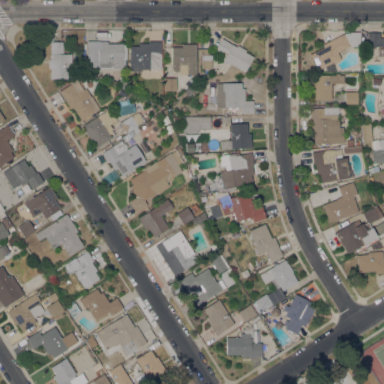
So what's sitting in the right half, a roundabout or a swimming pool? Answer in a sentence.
Looking in the right half, you will find a swimming pool.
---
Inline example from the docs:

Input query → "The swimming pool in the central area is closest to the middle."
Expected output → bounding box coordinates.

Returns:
[198,158,217,170]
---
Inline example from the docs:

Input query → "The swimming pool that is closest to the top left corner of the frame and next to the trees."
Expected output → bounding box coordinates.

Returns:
[119,100,137,116]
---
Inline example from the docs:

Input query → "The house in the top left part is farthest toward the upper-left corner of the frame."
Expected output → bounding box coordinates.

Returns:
[50,41,70,81]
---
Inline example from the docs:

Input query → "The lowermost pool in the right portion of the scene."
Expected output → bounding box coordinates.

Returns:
[271,326,292,348]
